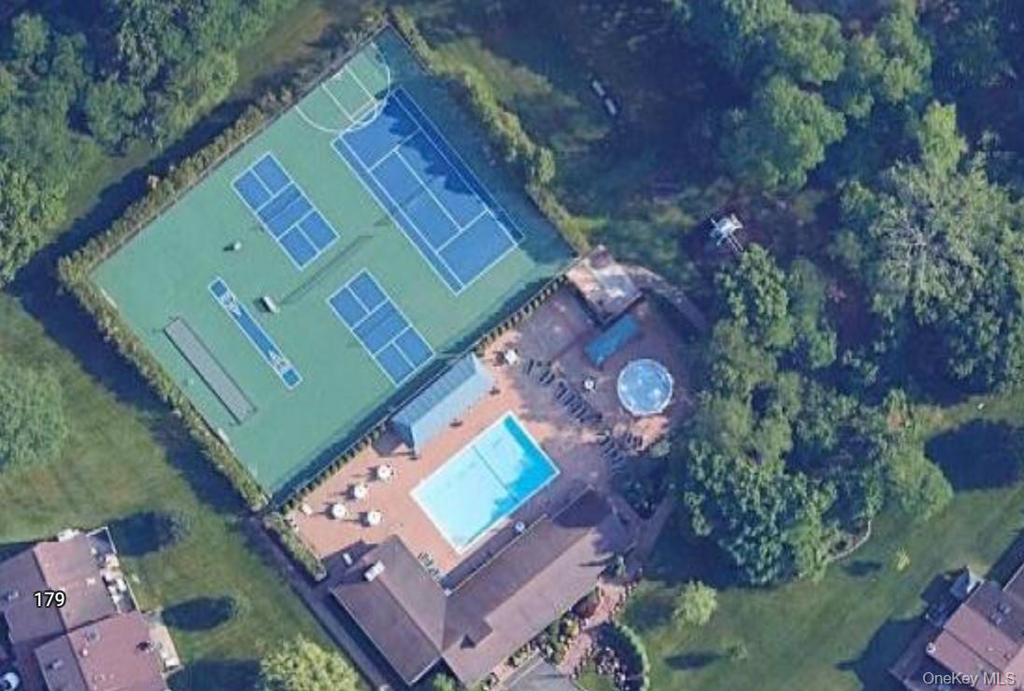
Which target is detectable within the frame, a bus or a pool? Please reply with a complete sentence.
Looking from above, you can make out a pool.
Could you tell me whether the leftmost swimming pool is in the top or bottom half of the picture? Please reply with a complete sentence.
The bottom half of the photo is where the leftmost swimming pool is.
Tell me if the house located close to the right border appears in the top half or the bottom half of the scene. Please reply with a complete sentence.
It is in the bottom half that the house located close to the right border appears.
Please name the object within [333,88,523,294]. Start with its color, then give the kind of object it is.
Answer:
blue tennis court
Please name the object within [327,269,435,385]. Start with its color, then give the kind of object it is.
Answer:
blue sports court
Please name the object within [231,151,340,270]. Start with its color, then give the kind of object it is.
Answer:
blue sports court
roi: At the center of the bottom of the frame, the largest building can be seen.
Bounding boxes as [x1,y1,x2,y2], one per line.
[330,484,642,690]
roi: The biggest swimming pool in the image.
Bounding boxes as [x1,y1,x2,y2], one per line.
[406,407,564,559]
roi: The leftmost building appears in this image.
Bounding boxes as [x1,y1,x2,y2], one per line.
[0,527,181,691]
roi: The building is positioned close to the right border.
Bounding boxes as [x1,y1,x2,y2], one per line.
[889,563,1024,691]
